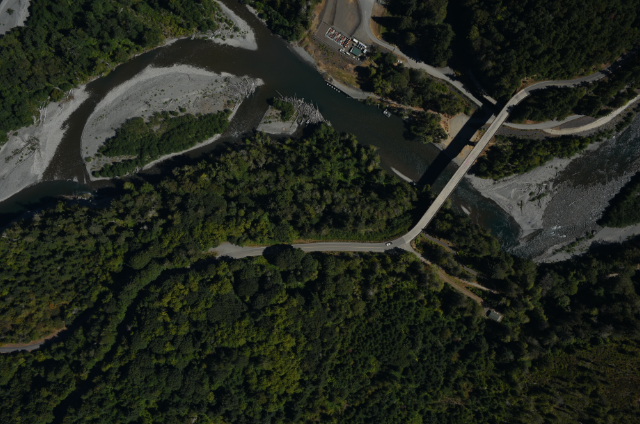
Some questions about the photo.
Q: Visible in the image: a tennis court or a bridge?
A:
bridge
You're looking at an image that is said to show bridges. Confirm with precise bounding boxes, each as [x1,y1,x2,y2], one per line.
[402,87,531,243]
